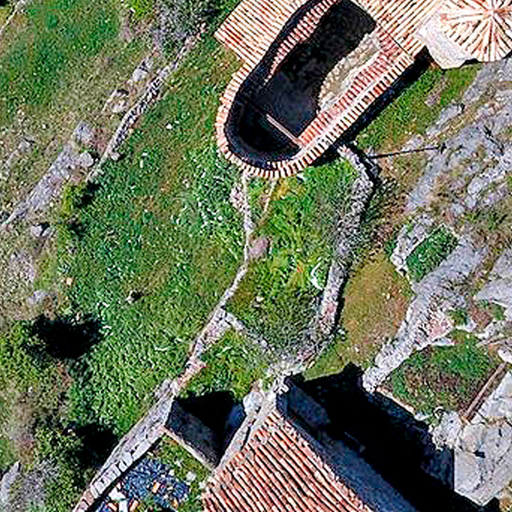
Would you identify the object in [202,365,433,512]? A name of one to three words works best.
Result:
house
